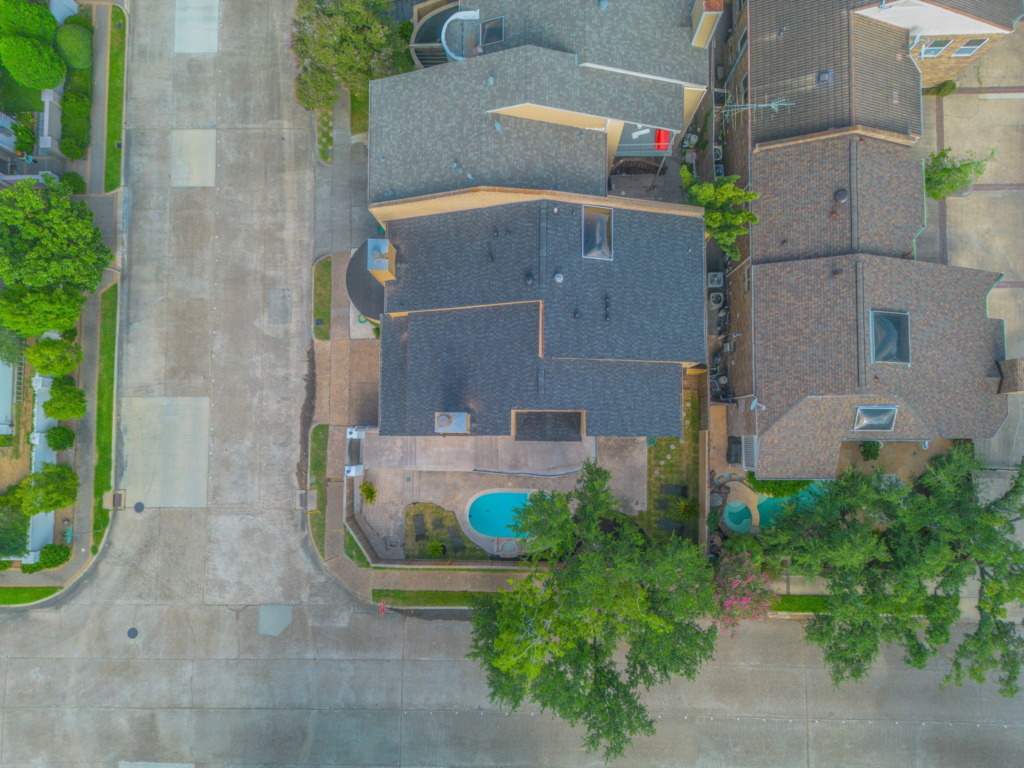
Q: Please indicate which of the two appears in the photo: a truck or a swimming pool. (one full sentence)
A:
This aerial view contains a swimming pool.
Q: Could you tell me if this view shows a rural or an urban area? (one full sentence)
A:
The land in this view is best described as urban.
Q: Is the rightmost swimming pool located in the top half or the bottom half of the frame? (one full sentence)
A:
You can find the rightmost swimming pool in the bottom half.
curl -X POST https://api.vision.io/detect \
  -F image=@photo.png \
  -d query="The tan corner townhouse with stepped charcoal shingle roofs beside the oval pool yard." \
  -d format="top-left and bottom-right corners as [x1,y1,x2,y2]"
[346,180,708,442]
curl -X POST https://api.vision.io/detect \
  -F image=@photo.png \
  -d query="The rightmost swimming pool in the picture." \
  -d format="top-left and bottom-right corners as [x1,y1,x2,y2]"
[755,485,833,536]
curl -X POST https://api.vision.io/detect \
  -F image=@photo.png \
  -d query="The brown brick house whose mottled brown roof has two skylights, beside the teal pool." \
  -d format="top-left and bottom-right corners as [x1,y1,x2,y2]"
[733,255,1024,485]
